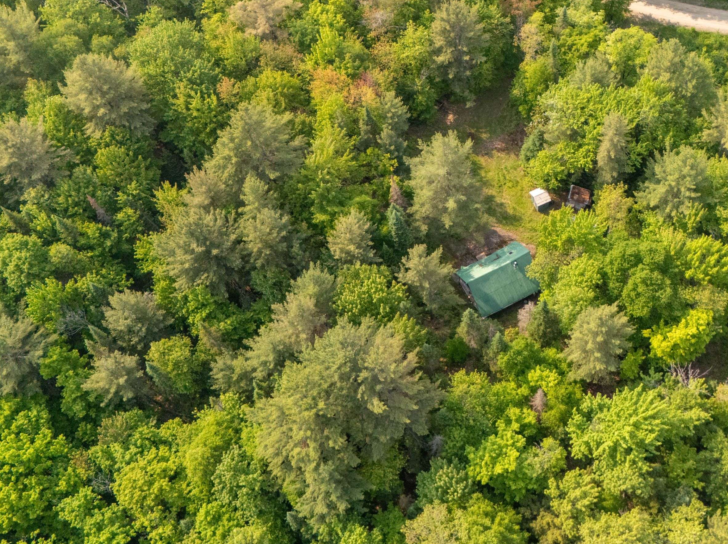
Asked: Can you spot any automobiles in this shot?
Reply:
No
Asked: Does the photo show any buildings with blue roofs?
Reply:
No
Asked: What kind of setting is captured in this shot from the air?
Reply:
forest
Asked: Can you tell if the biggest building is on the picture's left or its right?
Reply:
right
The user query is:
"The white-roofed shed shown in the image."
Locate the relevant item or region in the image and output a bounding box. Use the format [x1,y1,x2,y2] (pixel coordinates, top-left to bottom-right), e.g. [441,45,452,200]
[529,188,551,211]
